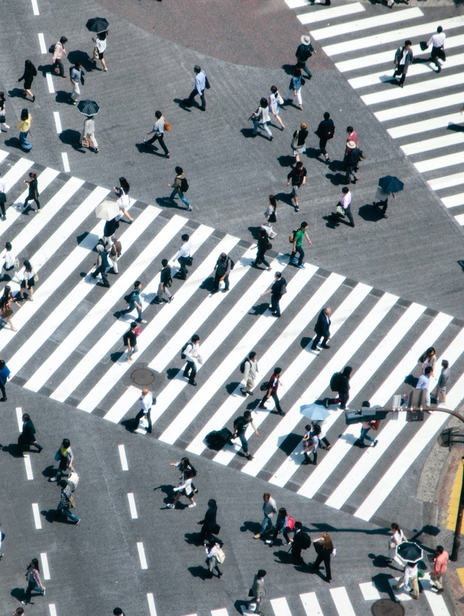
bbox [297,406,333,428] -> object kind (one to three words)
umbrella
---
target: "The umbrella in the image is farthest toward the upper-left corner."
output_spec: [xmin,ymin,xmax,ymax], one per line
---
[86,19,113,37]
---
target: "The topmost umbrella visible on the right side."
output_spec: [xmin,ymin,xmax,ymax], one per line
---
[380,178,408,197]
